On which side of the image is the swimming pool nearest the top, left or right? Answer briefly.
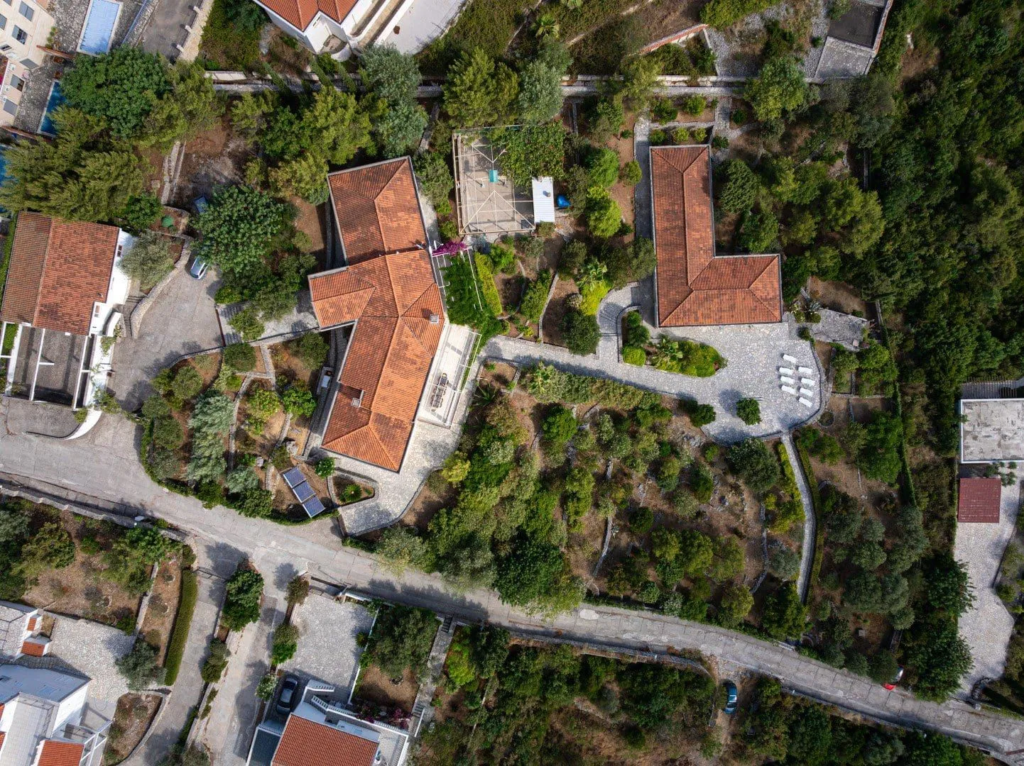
left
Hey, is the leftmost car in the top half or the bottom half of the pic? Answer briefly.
top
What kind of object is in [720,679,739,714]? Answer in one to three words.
car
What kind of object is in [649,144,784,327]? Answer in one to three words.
house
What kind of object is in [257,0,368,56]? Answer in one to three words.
house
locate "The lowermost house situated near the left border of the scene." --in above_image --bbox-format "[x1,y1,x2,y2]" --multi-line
[0,648,112,766]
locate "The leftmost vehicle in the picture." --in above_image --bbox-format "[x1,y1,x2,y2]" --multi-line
[188,251,213,284]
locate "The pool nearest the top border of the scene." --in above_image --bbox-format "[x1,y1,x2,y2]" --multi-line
[76,0,120,54]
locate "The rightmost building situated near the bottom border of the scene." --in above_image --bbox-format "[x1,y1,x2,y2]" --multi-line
[271,710,379,766]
